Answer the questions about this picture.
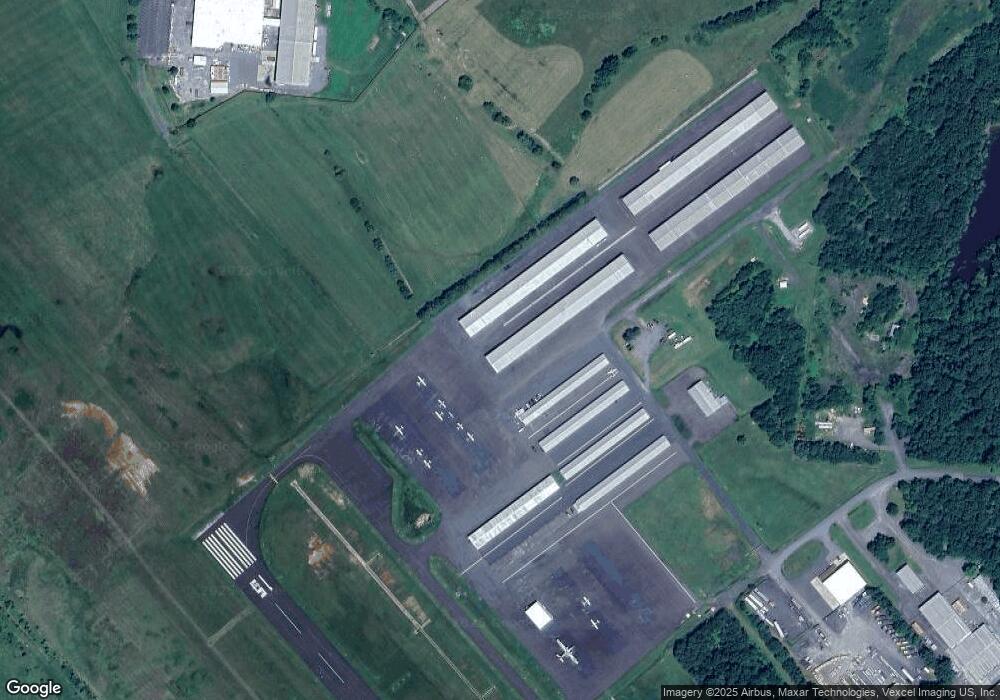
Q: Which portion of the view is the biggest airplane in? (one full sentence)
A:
You can find the biggest airplane in the bottom area of the picture.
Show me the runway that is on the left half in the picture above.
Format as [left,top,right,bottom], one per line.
[192,513,381,700]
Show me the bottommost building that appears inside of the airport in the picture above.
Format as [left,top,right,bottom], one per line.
[525,601,552,629]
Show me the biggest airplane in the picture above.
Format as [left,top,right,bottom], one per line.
[557,639,579,664]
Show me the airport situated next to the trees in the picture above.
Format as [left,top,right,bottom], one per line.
[192,80,811,700]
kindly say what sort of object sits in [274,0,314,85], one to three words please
building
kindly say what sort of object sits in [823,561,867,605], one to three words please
building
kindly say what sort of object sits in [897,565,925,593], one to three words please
shed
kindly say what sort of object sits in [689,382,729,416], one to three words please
hangar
